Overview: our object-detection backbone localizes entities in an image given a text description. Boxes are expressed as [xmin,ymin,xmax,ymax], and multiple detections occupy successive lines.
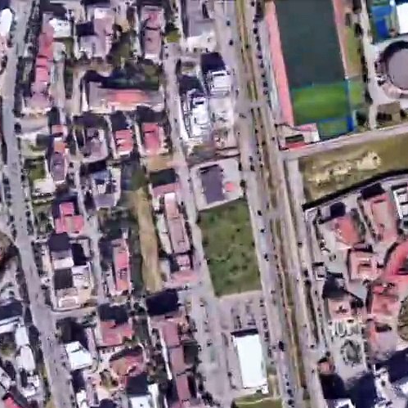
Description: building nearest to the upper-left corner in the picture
[0,9,13,41]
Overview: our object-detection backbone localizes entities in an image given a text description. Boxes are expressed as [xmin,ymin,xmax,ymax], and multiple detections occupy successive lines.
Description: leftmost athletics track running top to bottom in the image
[264,0,293,124]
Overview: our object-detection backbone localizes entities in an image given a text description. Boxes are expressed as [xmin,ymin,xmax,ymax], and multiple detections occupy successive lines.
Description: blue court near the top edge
[373,0,396,40]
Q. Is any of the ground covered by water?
No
